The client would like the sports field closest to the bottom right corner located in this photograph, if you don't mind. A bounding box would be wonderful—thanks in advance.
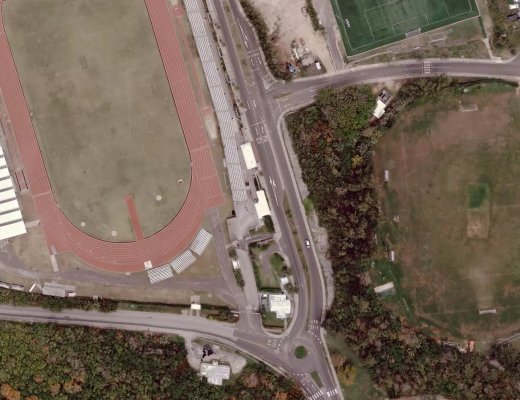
[373,83,520,346]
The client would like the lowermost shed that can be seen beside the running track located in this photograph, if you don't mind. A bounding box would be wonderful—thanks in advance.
[43,282,75,296]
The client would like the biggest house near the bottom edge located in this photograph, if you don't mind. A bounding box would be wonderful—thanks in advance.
[201,360,230,385]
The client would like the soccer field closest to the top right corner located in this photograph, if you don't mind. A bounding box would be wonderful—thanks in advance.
[329,0,481,59]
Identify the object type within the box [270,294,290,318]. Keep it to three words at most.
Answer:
house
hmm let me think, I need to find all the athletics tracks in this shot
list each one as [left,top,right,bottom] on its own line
[0,0,226,273]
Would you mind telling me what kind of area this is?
sports ground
